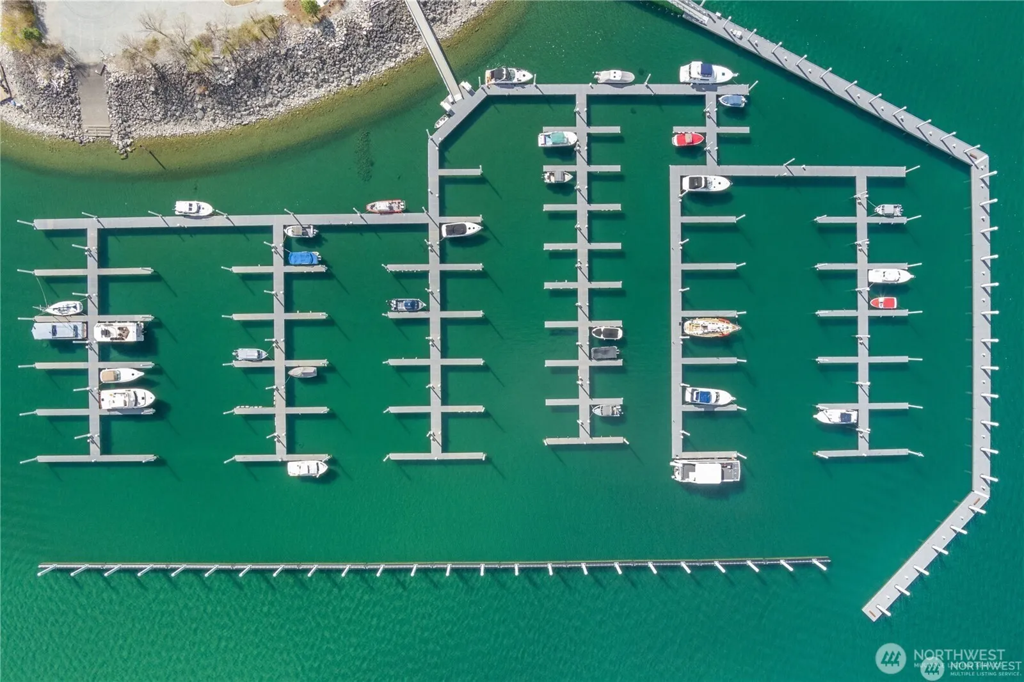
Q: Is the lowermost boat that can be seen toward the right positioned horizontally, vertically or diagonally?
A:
horizontally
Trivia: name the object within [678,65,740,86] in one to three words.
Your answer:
boat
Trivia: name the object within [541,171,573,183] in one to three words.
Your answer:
boat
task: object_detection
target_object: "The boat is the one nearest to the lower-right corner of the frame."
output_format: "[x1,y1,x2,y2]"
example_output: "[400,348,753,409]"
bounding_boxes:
[813,409,858,427]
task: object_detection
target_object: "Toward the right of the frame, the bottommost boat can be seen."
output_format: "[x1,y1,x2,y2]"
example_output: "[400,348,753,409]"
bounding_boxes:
[671,459,740,483]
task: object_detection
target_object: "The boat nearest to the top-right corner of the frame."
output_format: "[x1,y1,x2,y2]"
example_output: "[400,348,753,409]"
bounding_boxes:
[868,200,906,216]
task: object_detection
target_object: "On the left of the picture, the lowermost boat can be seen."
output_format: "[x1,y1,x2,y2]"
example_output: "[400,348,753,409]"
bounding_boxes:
[288,461,329,478]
